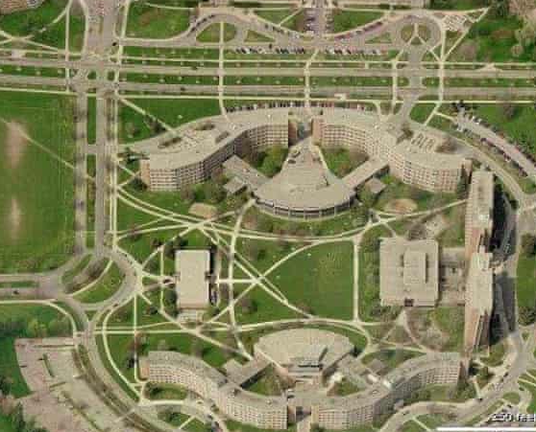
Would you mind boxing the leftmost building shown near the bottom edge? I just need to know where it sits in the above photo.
[140,351,296,430]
